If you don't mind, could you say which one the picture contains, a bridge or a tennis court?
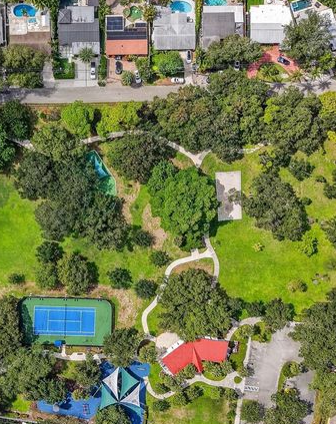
tennis court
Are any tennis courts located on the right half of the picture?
No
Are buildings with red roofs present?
Yes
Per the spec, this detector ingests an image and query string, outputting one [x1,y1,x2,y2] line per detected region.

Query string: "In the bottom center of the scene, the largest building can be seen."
[158,336,229,378]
